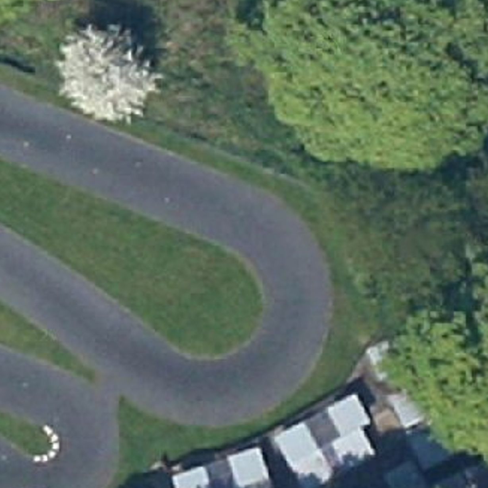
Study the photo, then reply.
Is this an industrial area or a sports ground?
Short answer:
sports ground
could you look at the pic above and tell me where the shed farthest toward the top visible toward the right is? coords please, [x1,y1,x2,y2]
[367,341,392,369]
